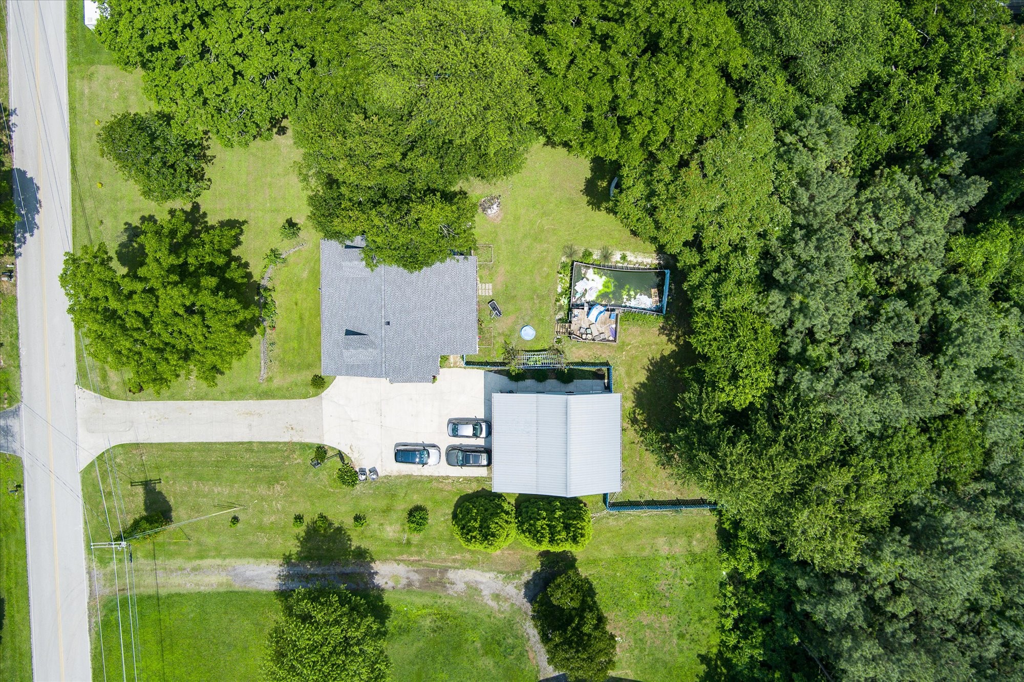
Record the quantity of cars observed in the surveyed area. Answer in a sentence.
In total, there are 3 cars in the scene.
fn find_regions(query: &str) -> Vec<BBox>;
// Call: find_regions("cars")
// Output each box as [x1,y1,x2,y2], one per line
[448,419,490,439]
[447,446,490,468]
[395,444,441,466]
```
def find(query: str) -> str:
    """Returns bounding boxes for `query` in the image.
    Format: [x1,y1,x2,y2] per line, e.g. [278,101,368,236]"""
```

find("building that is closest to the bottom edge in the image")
[486,393,623,499]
